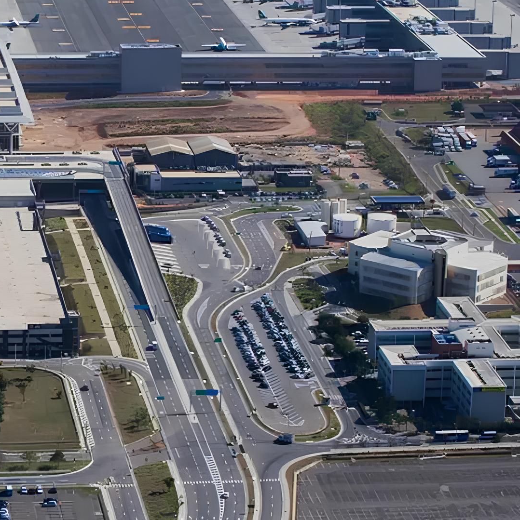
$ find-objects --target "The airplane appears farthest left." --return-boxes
[0,10,38,27]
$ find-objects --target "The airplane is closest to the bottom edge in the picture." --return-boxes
[194,36,250,49]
